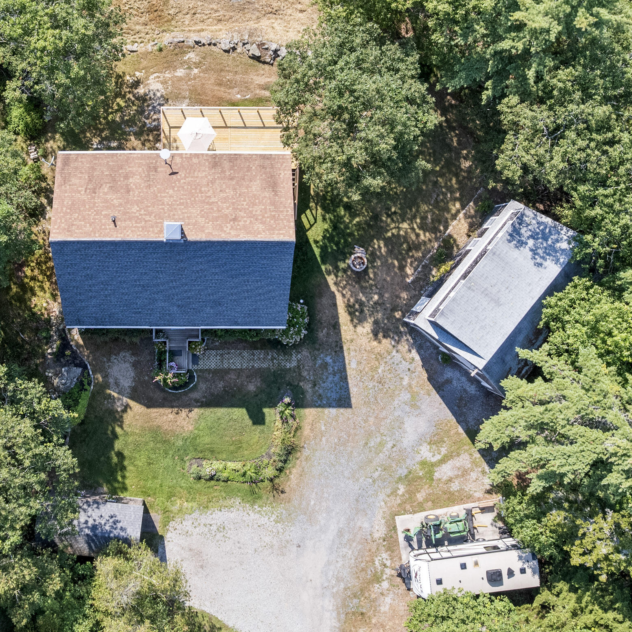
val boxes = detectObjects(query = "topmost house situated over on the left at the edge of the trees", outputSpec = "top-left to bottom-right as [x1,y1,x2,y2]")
[50,149,295,331]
